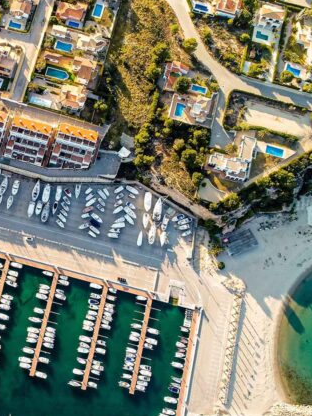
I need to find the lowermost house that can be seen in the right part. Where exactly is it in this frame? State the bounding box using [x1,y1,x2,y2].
[208,134,286,183]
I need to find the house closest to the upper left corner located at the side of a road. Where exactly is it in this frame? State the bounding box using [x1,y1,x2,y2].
[1,0,33,34]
